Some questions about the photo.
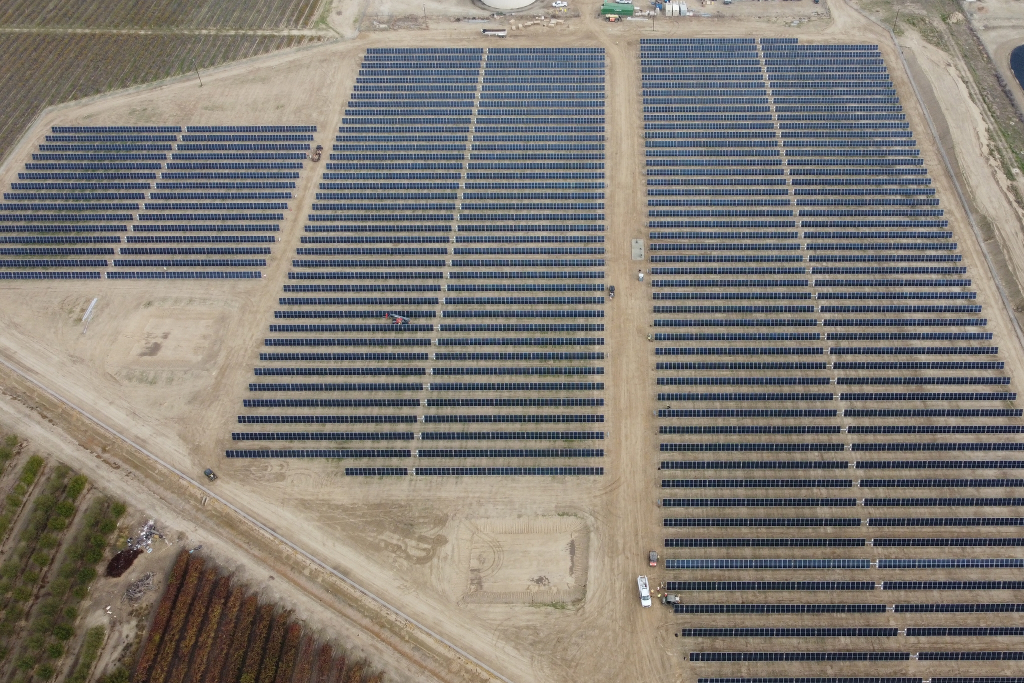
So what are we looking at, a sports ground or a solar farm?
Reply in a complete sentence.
The picture captures a solar farm.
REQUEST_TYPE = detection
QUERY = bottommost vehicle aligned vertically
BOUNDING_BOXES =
[637,573,652,606]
